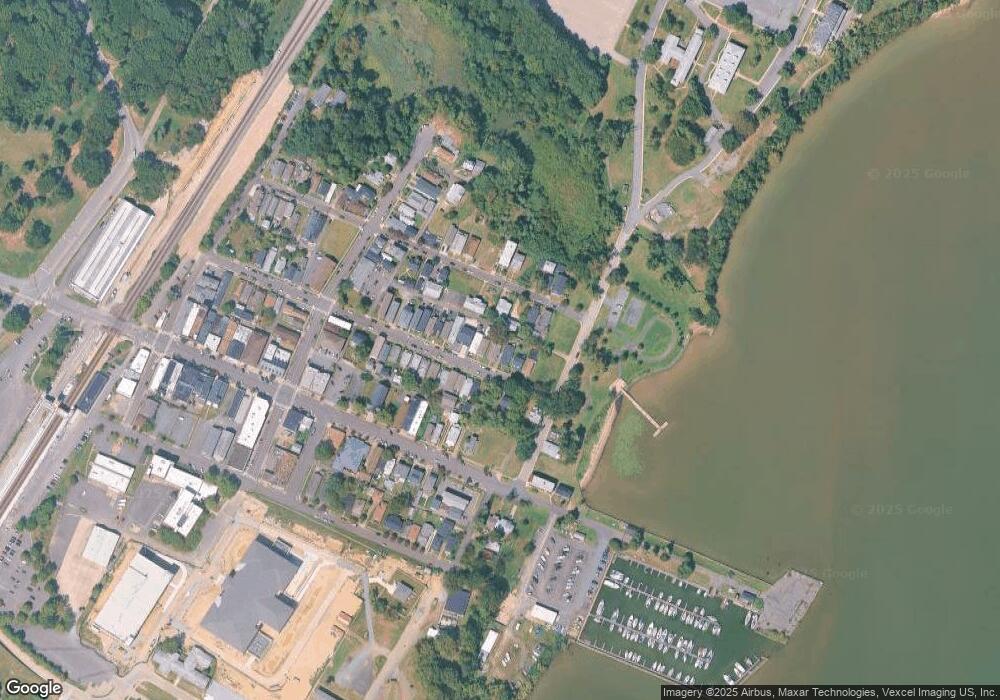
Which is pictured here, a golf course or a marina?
marina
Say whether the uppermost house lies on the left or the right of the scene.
right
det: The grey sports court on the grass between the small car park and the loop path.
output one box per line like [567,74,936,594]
[619,294,648,330]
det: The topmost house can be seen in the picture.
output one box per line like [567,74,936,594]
[812,4,848,52]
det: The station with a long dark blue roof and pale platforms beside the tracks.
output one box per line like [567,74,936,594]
[0,373,107,523]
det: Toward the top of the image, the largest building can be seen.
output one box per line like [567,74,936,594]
[71,197,152,302]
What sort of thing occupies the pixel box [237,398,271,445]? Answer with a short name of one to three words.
building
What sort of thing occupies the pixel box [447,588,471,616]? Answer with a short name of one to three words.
house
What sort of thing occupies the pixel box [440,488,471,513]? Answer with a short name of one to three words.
house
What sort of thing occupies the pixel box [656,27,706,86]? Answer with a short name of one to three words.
building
